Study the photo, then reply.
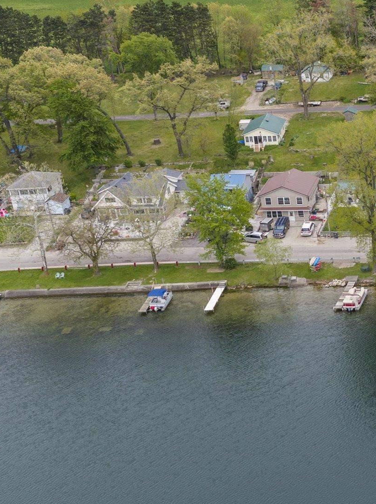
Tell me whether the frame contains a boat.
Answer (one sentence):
Yes, there is a boat in the image.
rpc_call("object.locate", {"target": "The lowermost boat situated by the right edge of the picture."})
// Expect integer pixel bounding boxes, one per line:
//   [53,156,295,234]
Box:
[339,284,369,316]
